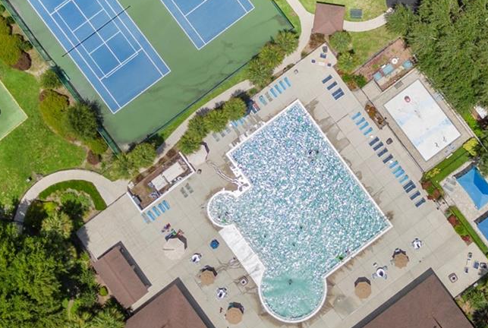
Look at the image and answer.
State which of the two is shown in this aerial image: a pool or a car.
pool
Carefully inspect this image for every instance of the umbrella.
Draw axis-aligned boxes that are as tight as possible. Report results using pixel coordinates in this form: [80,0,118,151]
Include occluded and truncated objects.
[226,308,243,324]
[354,282,372,298]
[164,236,185,259]
[393,252,410,269]
[199,270,215,285]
